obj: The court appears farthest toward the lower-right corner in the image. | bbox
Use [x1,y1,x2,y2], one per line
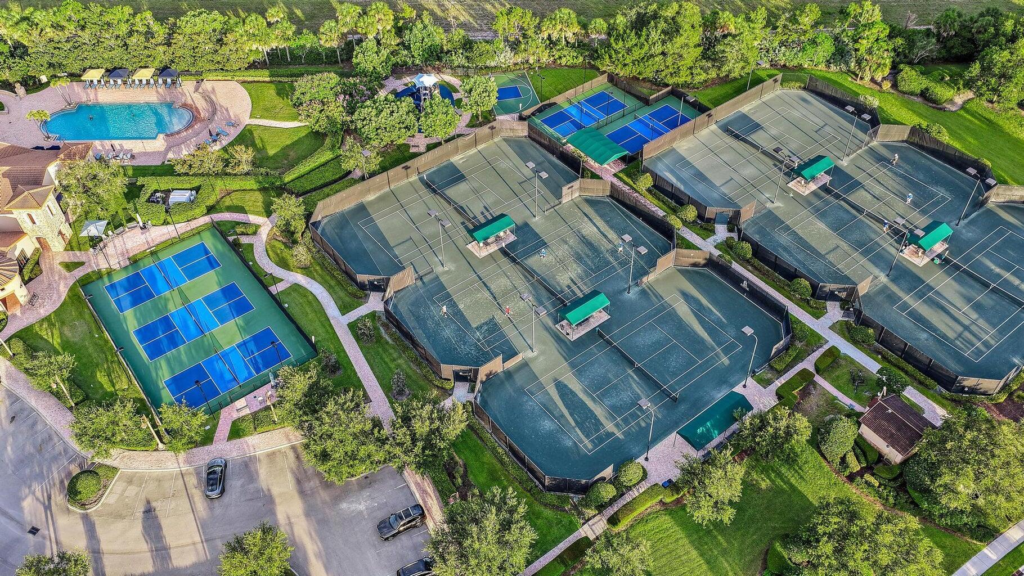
[861,202,1024,382]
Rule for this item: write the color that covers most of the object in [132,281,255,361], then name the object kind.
blue sports court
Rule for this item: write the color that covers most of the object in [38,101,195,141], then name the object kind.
blue swimming pool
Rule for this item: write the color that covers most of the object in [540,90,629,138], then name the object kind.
blue sports court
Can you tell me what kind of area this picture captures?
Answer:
sports ground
